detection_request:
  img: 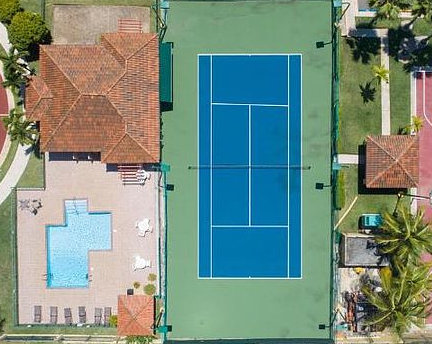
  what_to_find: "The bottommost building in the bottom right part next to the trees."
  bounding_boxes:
[342,234,386,266]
